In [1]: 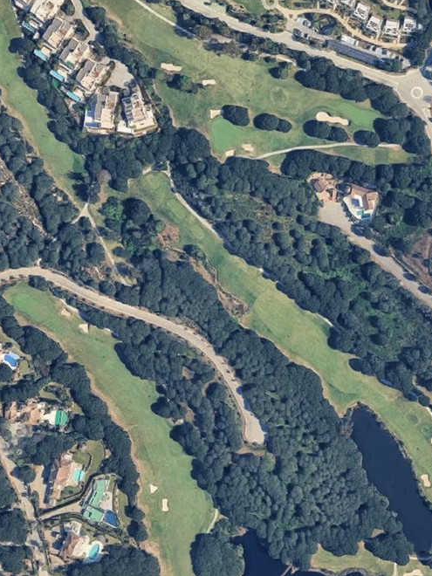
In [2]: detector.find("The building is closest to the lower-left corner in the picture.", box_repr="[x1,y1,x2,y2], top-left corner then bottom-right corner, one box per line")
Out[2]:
[55,517,84,562]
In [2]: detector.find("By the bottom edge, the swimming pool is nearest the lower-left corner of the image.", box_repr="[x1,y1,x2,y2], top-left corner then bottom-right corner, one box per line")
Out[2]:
[86,541,101,562]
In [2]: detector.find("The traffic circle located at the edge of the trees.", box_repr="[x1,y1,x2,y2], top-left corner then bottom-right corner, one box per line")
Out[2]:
[394,69,432,112]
